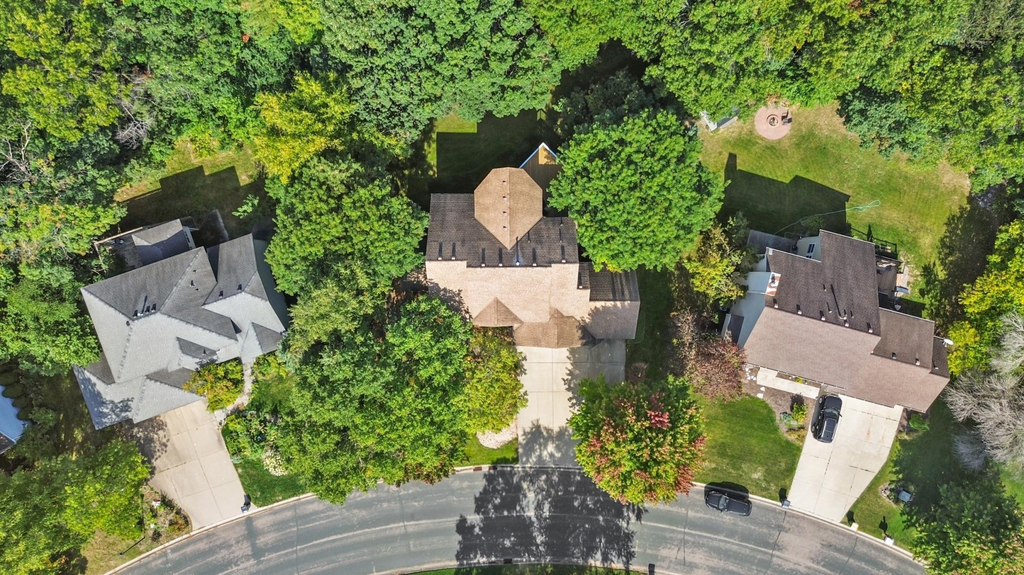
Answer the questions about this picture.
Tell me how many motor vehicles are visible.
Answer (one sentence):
The picture shows 2 motor vehicles.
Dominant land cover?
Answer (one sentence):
The bulk of the photo consists of trees.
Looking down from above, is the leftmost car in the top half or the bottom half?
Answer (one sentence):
Seen from above, the leftmost car lies in the bottom half of the view.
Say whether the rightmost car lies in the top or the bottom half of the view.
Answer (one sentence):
The rightmost car sits in the bottom half of the picture.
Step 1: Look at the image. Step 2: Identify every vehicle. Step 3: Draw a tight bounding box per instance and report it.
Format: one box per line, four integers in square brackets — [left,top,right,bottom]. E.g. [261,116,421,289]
[704,485,753,515]
[812,393,843,444]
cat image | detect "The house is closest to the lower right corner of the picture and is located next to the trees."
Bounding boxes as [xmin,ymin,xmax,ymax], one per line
[716,228,950,413]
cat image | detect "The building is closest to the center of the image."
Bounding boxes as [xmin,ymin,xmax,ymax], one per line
[426,167,640,348]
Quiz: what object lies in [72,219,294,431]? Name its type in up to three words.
house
